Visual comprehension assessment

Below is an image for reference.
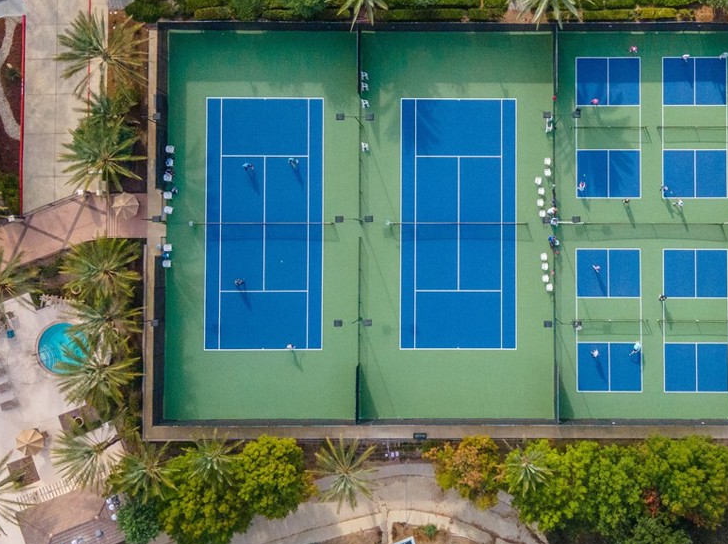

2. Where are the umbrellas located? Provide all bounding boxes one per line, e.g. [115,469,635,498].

[17,427,47,455]
[113,192,140,219]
